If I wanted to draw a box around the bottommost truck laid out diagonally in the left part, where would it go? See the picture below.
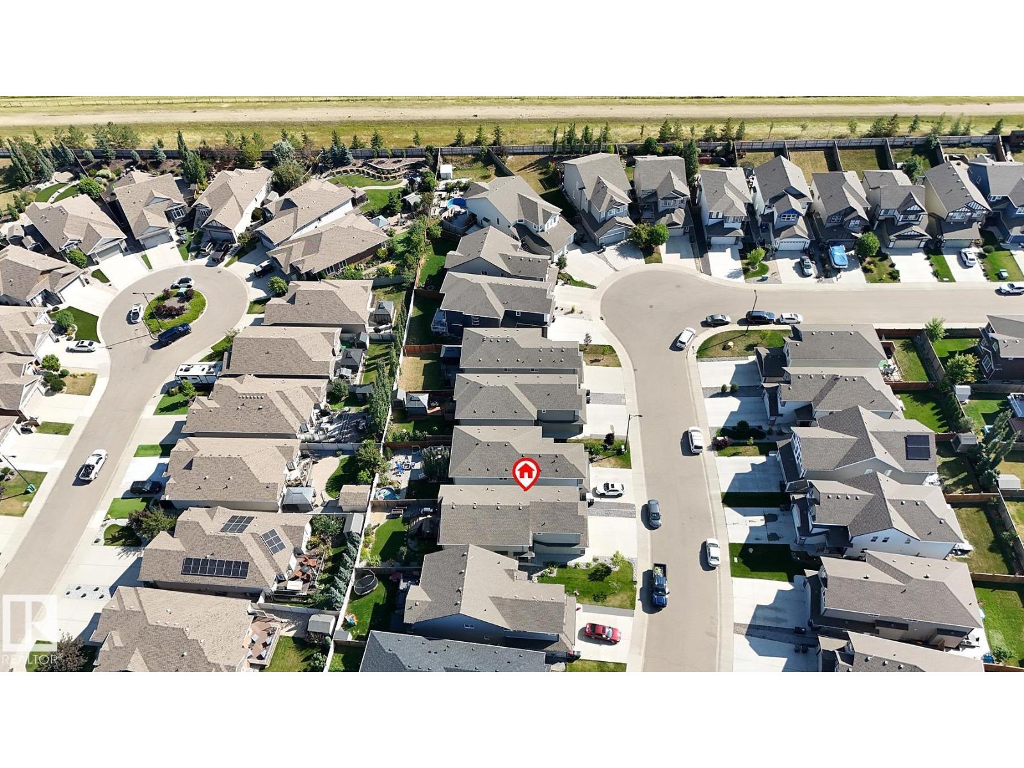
[75,449,111,483]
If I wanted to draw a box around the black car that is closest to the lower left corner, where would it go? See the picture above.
[128,478,163,495]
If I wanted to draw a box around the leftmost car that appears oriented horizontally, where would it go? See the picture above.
[67,340,97,353]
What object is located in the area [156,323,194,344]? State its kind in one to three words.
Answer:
truck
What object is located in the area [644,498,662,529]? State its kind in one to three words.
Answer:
car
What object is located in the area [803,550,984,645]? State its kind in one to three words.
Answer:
house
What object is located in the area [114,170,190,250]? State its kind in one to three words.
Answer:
house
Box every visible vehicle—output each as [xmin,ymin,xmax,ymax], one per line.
[777,312,804,324]
[197,238,217,257]
[644,498,662,529]
[958,248,977,267]
[130,304,145,324]
[651,563,669,609]
[799,256,814,275]
[156,323,194,344]
[67,340,97,353]
[170,274,197,290]
[251,258,274,275]
[75,449,111,483]
[997,282,1024,296]
[687,428,705,454]
[676,327,696,350]
[128,478,163,495]
[703,313,732,327]
[703,538,721,570]
[208,241,231,262]
[593,481,627,499]
[583,621,622,645]
[746,310,775,324]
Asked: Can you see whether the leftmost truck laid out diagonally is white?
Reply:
Yes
